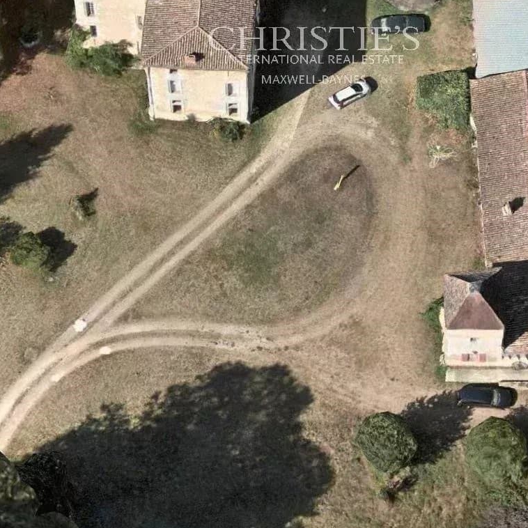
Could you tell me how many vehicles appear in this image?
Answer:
3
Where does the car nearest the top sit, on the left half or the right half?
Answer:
right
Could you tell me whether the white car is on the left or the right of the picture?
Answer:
right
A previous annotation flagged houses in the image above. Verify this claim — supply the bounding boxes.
[140,0,260,122]
[467,66,528,369]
